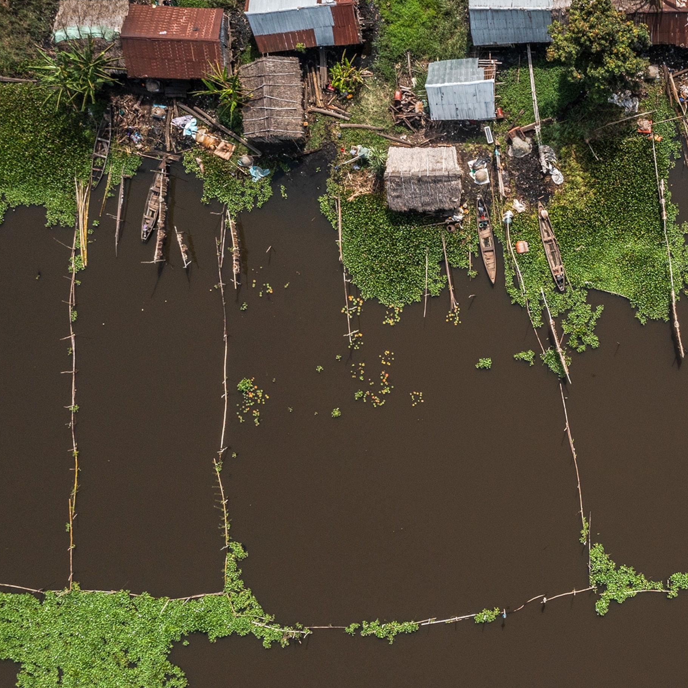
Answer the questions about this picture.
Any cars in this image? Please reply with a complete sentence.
No, there's no car here.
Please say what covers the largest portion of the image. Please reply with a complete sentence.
What you mostly see from above here is water.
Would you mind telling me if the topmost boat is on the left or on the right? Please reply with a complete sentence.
You can find the topmost boat on the left side of the picture.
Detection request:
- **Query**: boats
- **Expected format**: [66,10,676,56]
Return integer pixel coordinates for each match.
[539,201,565,291]
[141,159,165,241]
[90,104,112,190]
[476,195,496,284]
